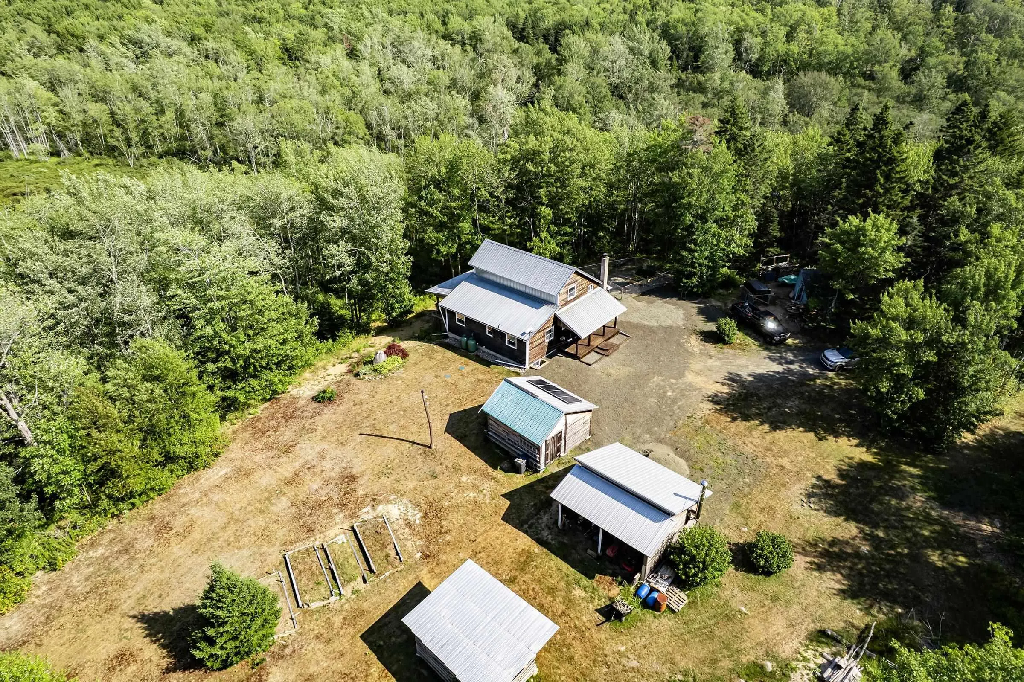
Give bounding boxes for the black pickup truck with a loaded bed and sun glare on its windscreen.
[730,303,789,342]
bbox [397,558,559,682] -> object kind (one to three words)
shed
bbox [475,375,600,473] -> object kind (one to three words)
shed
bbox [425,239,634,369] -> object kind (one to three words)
house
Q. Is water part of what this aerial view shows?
No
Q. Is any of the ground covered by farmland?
No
